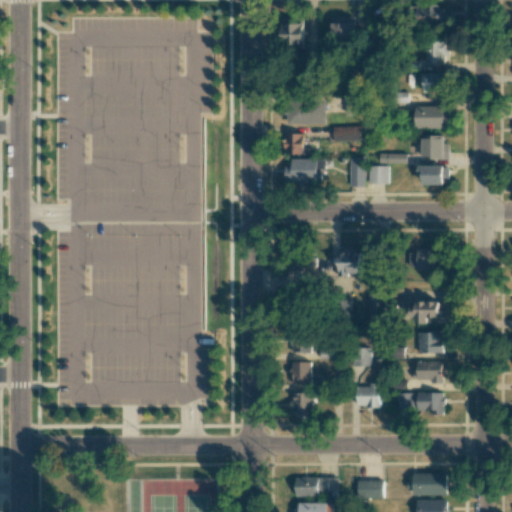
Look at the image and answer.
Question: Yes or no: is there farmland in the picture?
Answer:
No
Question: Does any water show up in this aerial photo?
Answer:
No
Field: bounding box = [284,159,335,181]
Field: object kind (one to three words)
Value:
house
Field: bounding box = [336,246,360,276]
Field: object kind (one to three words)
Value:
house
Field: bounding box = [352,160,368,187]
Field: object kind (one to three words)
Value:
building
